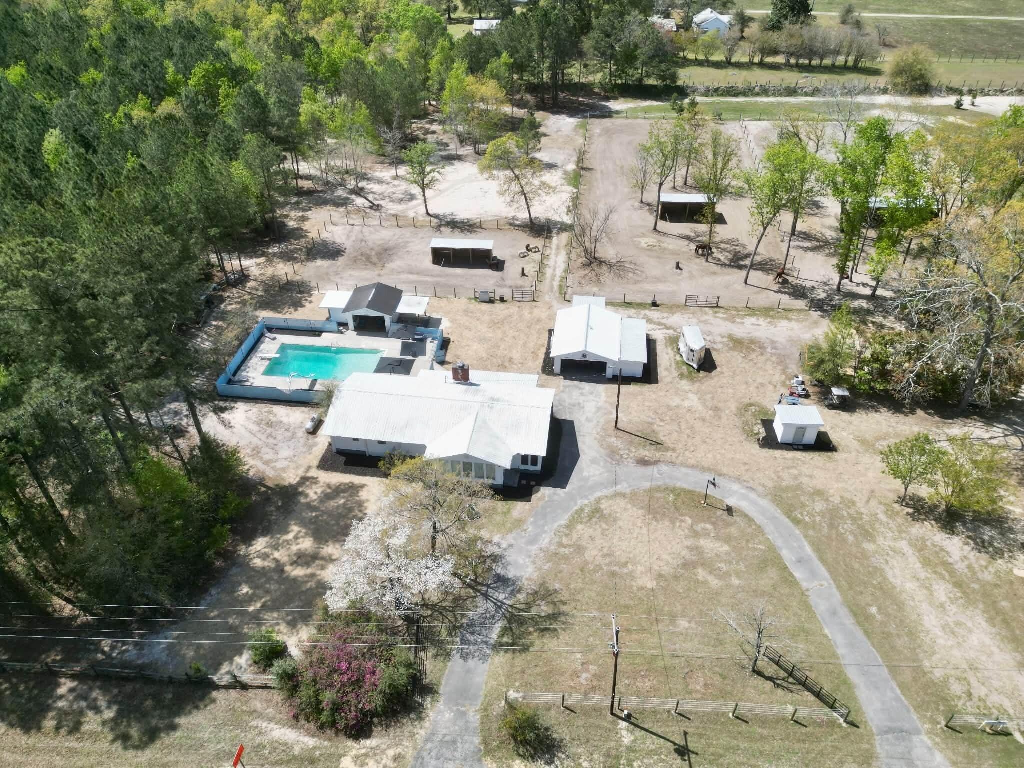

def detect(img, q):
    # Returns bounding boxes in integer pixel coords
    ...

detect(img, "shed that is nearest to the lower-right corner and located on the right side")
[774,404,826,443]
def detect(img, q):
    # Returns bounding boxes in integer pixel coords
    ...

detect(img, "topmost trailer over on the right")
[677,326,705,372]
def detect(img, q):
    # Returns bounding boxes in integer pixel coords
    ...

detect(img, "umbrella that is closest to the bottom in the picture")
[374,356,415,376]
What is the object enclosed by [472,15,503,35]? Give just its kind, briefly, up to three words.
barn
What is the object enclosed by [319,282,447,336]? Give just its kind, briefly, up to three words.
building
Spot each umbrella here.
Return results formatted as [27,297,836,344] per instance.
[386,319,416,343]
[374,356,415,376]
